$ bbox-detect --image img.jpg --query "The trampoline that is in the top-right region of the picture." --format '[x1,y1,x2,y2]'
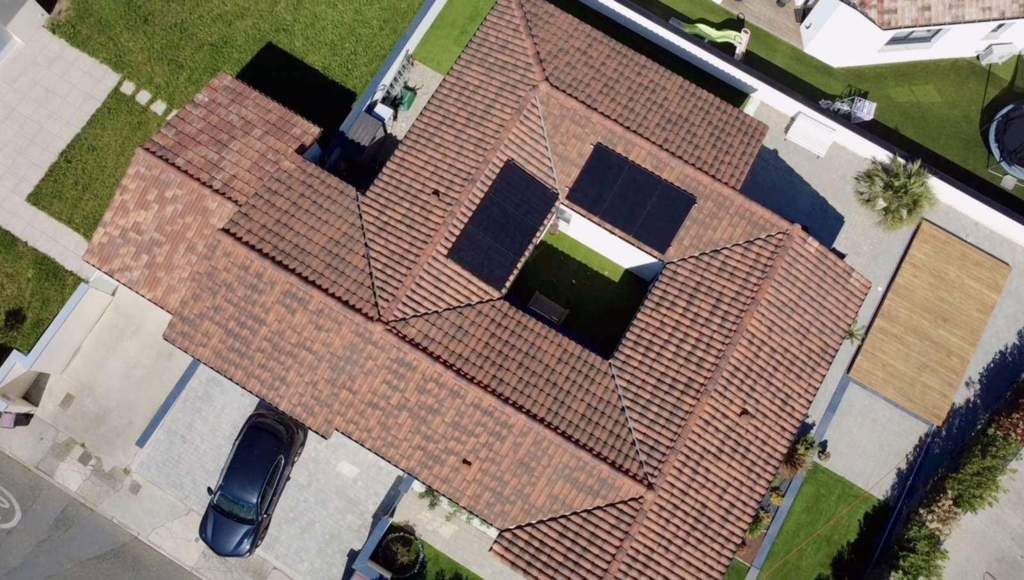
[977,97,1024,177]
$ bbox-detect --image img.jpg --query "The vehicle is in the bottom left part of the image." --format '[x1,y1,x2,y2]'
[202,401,311,560]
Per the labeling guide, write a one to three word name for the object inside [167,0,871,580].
house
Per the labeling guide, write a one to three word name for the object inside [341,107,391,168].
shed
